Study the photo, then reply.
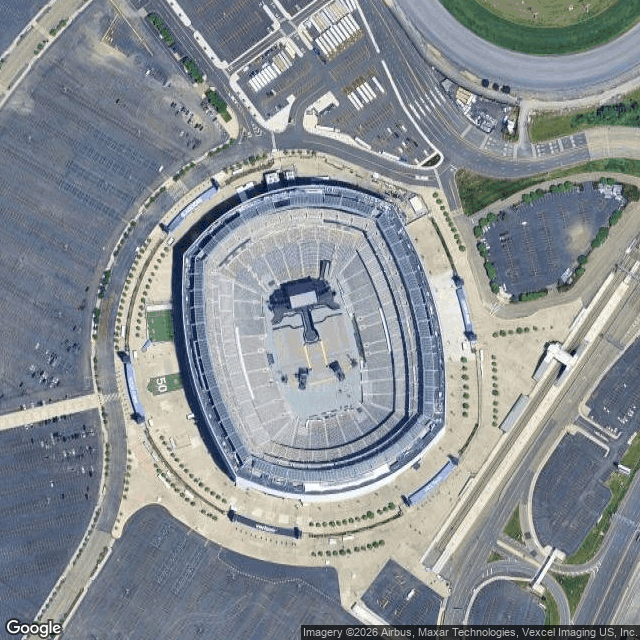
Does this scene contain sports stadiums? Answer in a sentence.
Yes, the picture does show a sports stadium.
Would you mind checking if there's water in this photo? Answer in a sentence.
No, no water is visible.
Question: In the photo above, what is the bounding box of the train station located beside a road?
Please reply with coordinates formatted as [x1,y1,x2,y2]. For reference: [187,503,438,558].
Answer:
[534,337,589,386]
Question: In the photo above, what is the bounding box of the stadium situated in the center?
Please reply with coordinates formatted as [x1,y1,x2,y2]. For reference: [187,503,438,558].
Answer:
[181,184,446,503]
